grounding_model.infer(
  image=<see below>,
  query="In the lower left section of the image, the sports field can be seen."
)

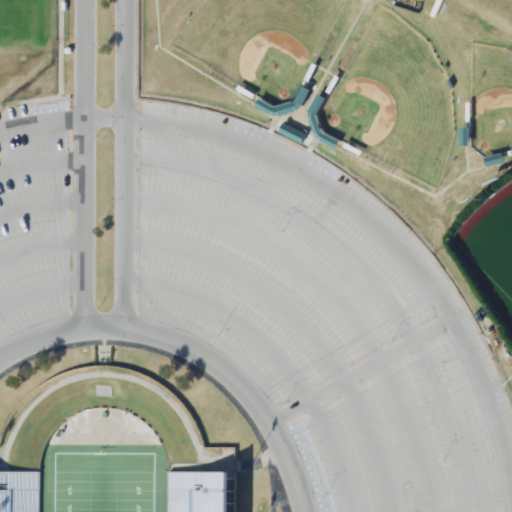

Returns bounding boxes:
[43,407,167,512]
